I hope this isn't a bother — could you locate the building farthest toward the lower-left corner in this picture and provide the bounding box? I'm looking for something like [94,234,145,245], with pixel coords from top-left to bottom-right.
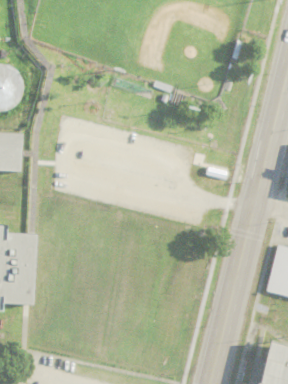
[0,225,38,312]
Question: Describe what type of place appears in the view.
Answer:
sports ground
